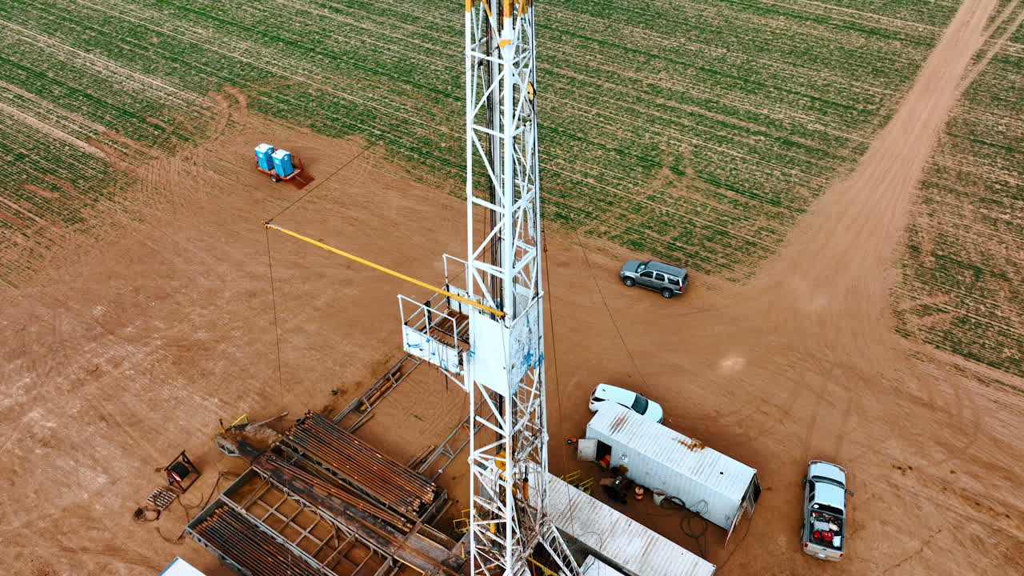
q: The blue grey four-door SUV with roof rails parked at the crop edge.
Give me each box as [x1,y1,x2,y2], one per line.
[617,263,691,301]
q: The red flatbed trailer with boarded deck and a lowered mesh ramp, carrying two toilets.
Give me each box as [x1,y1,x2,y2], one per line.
[253,158,319,191]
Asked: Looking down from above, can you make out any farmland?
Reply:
Yes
